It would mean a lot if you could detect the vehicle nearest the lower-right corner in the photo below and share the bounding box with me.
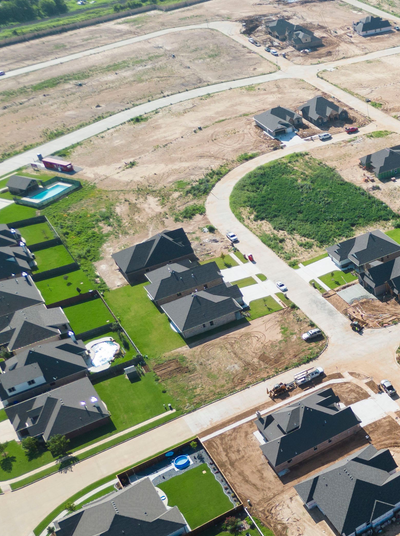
[380,379,397,397]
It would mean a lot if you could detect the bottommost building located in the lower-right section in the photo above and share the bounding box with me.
[292,447,400,536]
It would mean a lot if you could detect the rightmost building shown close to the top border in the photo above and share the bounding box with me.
[347,12,394,37]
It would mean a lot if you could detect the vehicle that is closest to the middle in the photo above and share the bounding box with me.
[224,227,240,241]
